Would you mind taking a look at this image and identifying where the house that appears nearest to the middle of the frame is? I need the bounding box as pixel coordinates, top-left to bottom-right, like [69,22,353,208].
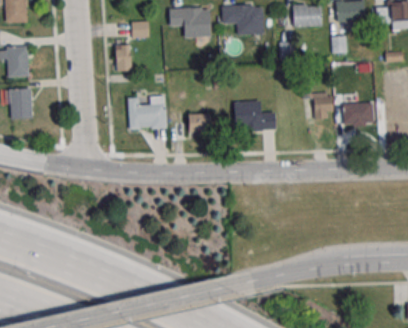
[189,114,214,134]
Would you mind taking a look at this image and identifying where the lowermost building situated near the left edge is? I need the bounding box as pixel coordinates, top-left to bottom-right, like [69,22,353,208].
[10,88,32,120]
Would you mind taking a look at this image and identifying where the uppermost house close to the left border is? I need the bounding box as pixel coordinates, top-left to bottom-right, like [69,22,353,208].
[5,0,28,23]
